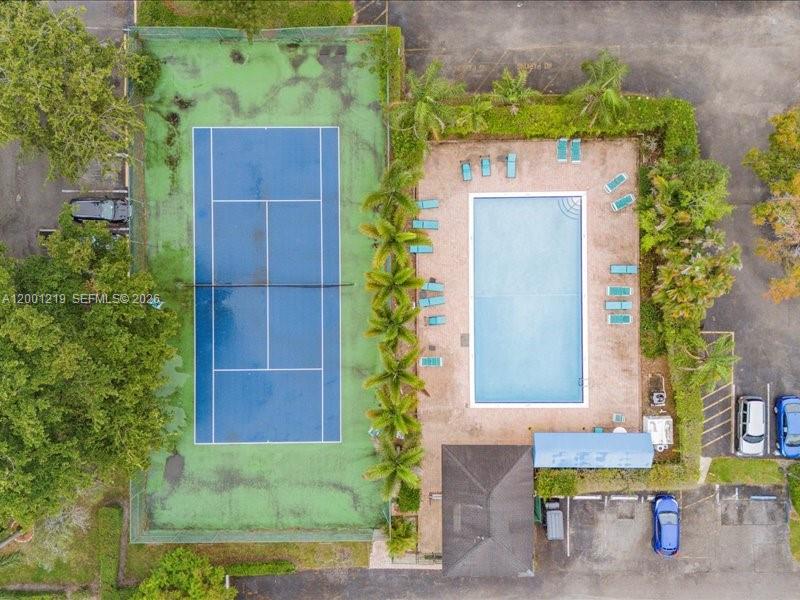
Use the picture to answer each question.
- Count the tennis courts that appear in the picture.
1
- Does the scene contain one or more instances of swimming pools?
Yes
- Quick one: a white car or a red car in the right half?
white car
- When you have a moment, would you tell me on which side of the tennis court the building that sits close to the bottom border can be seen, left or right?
to its right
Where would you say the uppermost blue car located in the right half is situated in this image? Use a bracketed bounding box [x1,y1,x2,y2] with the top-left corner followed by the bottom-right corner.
[773,395,800,459]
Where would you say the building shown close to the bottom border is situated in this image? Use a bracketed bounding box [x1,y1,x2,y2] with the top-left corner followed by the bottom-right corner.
[441,445,537,578]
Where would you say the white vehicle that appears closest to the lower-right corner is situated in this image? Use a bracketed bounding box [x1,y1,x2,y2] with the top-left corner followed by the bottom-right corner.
[736,395,770,458]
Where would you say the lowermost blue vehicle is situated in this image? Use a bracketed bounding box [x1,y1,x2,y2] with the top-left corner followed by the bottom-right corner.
[652,492,684,558]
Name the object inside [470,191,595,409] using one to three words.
swimming pool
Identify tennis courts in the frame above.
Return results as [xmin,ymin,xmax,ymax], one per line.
[144,39,389,531]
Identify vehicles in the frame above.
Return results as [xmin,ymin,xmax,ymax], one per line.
[736,395,770,458]
[66,195,128,225]
[773,395,800,459]
[542,498,564,540]
[652,492,684,558]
